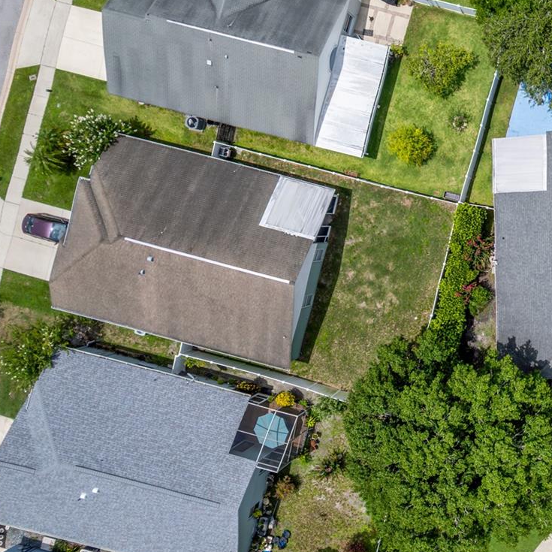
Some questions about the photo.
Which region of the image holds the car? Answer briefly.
left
